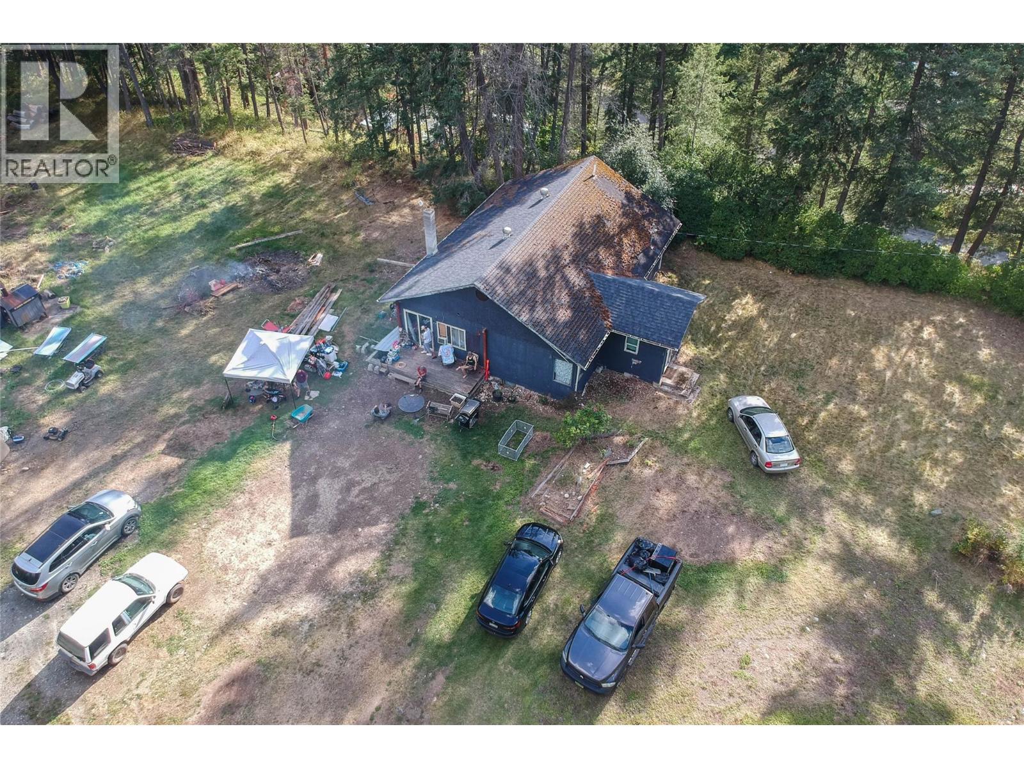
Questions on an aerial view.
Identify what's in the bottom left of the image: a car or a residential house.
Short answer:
car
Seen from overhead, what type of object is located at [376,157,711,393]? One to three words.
house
